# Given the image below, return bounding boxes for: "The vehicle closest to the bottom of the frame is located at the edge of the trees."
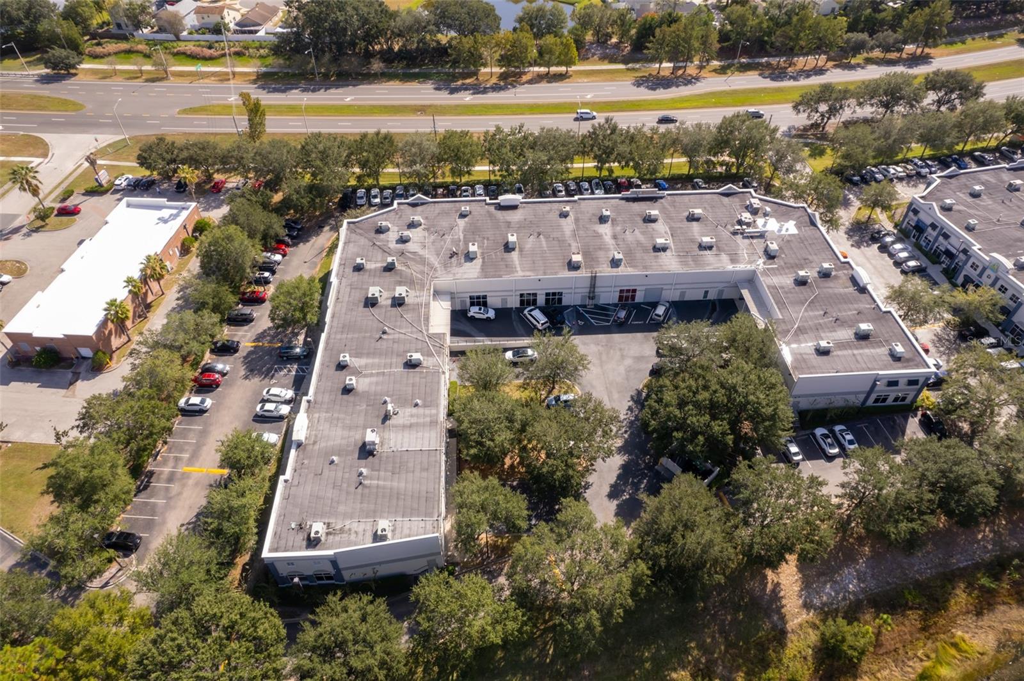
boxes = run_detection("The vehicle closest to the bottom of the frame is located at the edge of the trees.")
[101,531,144,553]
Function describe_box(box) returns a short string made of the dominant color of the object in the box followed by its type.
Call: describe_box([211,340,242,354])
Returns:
black car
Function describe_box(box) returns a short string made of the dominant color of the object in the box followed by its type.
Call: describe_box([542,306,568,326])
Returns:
black car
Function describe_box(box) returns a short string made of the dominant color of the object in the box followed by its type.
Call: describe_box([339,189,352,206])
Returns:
black vehicle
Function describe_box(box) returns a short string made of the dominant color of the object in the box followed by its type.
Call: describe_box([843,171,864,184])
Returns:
black vehicle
